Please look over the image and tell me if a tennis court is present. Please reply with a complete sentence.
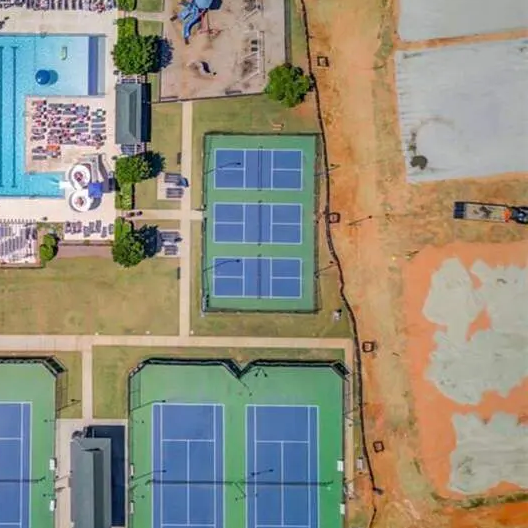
Yes, a tennis court can be made out from above.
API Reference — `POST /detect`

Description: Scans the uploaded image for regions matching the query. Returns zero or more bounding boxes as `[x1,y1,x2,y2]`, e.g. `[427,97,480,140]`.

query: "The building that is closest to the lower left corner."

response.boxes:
[72,436,112,528]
